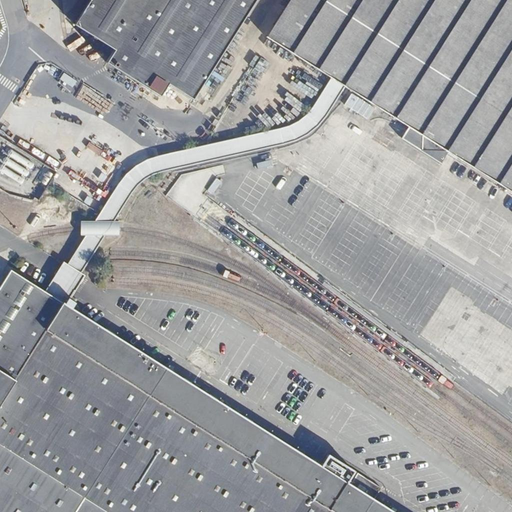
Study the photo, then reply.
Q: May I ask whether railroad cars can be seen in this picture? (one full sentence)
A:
Yes, there is a railroad car in the image.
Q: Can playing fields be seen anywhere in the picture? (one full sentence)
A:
No, no playing field can be seen from above.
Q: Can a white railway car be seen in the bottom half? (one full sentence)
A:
Yes, a white railway car shows up in the bottom half.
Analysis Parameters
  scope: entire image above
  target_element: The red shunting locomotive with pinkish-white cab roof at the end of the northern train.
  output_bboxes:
[436,374,456,391]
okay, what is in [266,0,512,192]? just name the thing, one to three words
building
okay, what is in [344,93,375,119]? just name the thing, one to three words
shed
